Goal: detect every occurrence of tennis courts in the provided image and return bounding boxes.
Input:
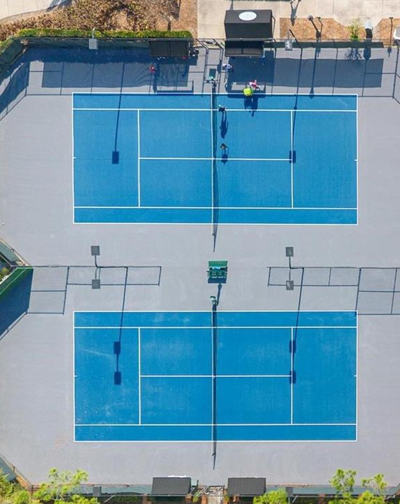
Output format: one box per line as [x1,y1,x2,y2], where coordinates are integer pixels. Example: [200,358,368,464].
[73,92,358,225]
[74,311,357,442]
